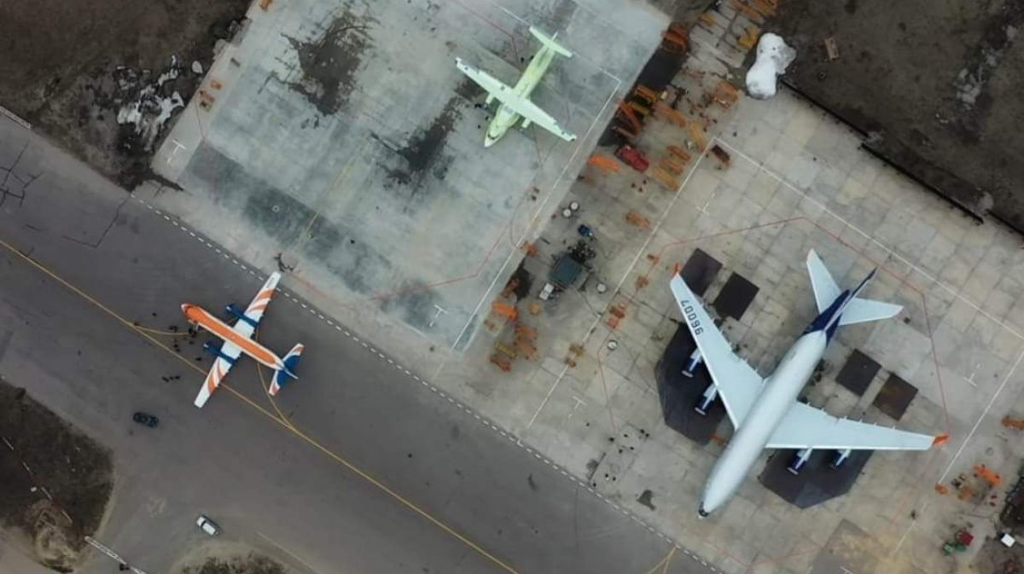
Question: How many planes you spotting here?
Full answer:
My tally gives 3 planes in this view.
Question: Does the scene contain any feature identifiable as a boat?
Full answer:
No, the picture doesn't show any boat.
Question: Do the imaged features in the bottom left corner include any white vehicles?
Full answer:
Yes, a white vehicle is visible in the bottom left corner.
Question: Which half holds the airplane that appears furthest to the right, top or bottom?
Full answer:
You can find the airplane that appears furthest to the right in the bottom half.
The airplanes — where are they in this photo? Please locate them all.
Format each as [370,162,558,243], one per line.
[182,273,304,408]
[673,253,950,516]
[453,24,577,147]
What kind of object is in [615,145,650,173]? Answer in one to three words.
truck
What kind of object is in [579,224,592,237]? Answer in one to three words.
vehicle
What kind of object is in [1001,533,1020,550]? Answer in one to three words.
vehicle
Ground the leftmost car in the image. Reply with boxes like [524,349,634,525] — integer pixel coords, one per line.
[132,411,158,428]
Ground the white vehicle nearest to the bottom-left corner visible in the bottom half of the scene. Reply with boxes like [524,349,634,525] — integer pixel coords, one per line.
[194,517,220,537]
